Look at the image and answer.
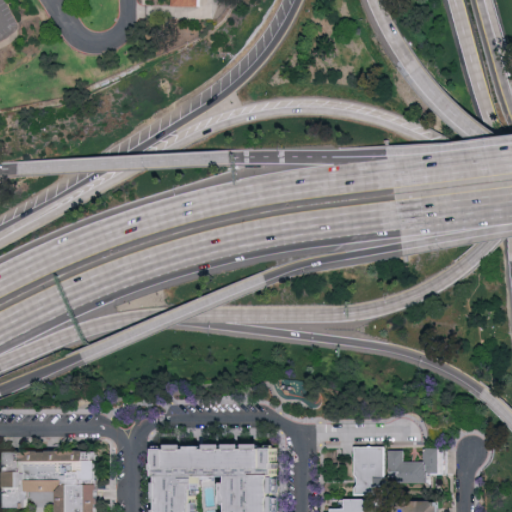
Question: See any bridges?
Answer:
Yes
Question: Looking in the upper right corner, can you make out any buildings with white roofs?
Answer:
No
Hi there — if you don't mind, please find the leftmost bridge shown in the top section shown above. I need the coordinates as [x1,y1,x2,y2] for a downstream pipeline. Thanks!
[16,150,229,175]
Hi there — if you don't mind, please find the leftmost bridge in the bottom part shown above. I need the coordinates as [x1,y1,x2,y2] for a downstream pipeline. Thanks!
[82,274,266,364]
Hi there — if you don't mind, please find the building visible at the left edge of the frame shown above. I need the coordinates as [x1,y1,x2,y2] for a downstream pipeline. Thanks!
[0,452,98,512]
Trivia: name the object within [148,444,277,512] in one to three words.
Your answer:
building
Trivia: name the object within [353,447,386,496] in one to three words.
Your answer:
building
